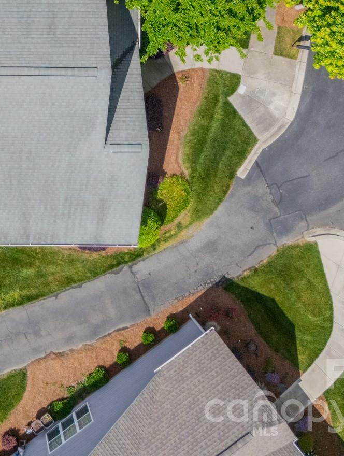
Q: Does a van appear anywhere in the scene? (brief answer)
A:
No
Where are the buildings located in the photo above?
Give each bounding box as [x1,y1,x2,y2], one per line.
[0,0,148,249]
[13,318,307,456]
